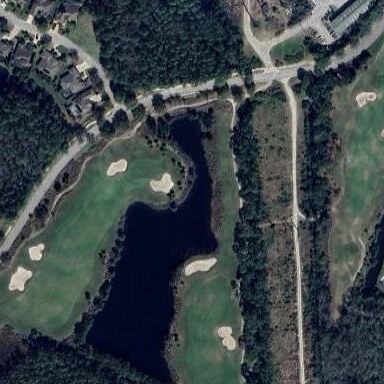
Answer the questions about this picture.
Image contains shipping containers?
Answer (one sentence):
No, no shipping container is visible in the view.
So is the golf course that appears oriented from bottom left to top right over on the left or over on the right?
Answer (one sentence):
You can find the golf course that appears oriented from bottom left to top right on the left side of the picture.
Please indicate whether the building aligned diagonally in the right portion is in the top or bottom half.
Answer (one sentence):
The top half of the photo is where the building aligned diagonally in the right portion is.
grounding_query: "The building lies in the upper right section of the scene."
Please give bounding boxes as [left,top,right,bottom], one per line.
[328,0,376,34]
